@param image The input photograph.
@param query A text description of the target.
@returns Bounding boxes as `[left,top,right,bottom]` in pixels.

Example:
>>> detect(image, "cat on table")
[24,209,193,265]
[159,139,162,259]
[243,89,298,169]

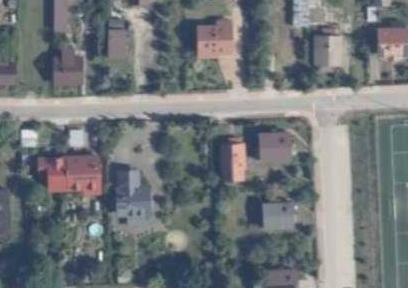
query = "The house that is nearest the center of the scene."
[220,137,246,184]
